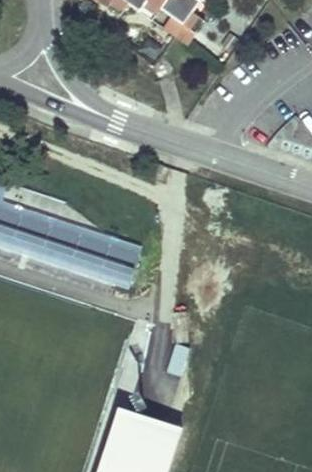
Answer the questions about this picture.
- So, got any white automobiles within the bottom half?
No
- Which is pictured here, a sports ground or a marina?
sports ground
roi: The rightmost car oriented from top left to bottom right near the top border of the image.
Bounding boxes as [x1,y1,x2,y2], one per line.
[294,18,312,40]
